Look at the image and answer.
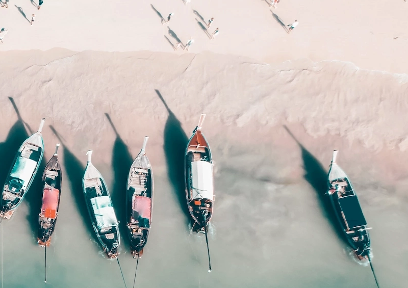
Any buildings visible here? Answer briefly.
No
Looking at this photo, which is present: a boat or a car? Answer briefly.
boat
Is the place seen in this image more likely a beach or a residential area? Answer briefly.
beach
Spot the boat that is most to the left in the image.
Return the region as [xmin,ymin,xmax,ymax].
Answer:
[0,117,45,226]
